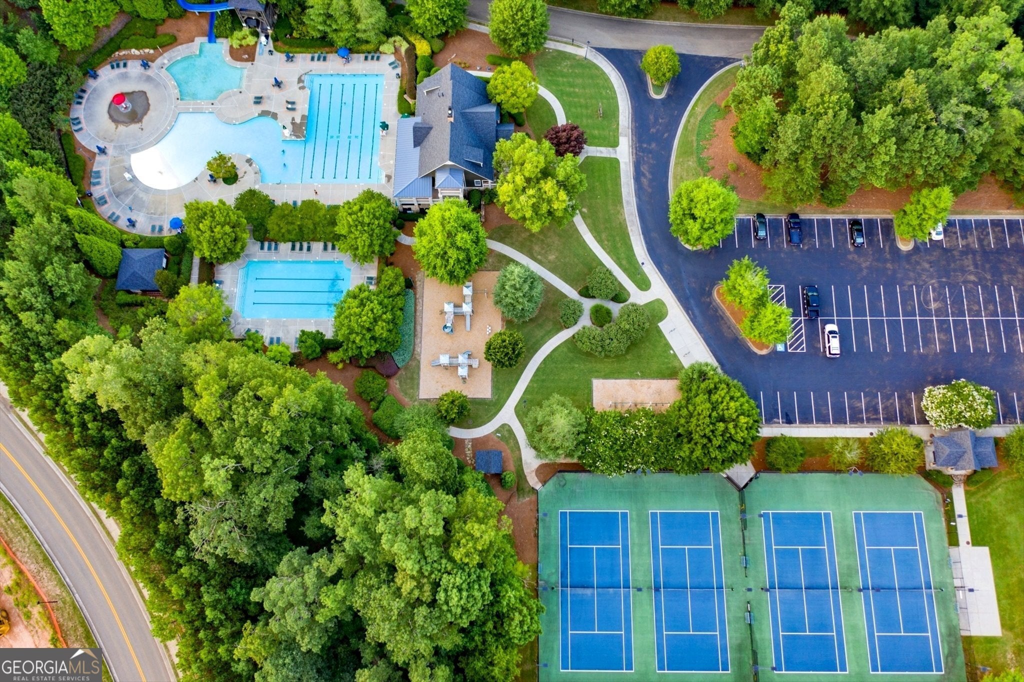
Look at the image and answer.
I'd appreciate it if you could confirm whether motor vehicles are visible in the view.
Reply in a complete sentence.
Yes, this view includes a motor vehicle.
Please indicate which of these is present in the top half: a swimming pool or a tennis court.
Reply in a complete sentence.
The one visible in the top half is a swimming pool.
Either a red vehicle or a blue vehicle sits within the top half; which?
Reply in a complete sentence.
There is a blue vehicle within the top half.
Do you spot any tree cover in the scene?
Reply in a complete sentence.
Yes, some tree cover is visible.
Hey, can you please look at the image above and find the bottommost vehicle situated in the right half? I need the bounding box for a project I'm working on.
[822,326,840,357]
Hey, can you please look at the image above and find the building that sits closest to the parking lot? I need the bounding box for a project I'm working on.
[927,431,998,471]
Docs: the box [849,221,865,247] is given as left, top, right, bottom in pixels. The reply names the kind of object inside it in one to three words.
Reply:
car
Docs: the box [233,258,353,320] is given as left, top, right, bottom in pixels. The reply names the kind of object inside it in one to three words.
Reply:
swimming pool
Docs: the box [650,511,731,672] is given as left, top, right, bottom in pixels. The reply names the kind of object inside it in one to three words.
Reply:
tennis court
